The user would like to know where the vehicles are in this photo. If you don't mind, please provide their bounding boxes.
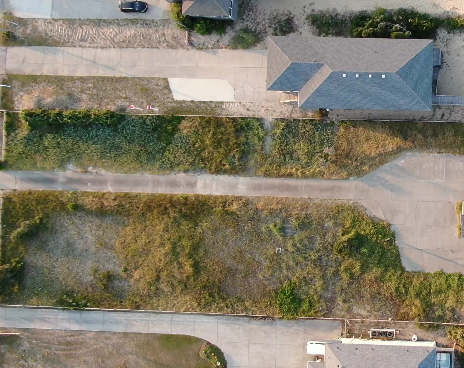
[300,342,325,358]
[117,0,146,13]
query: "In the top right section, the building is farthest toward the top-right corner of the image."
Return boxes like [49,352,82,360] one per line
[266,36,434,111]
